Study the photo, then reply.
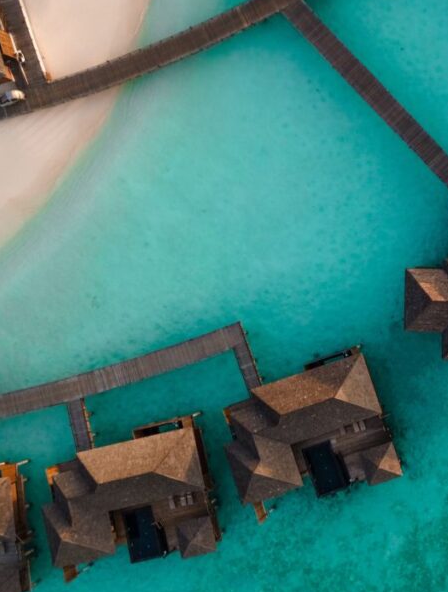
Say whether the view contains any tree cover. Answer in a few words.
No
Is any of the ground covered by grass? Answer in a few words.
No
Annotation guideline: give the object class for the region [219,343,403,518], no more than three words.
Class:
house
